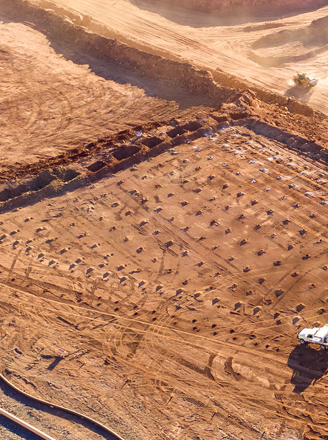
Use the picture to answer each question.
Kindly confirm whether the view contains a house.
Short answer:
No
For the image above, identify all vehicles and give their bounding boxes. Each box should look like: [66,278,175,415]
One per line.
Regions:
[293,70,320,89]
[292,320,328,350]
